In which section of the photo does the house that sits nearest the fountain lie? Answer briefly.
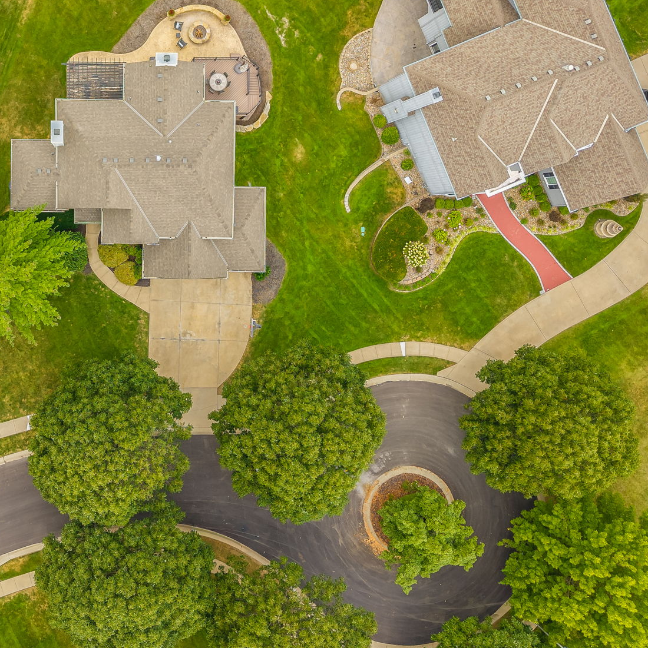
top right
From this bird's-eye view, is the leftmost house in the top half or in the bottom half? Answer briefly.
top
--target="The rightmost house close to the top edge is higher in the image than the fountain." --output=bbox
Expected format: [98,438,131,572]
[366,0,648,214]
